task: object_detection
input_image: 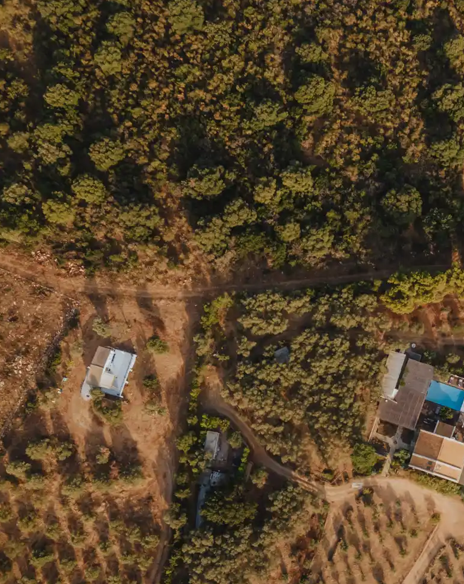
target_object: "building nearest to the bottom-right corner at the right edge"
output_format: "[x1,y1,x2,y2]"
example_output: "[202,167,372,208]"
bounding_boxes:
[409,419,464,481]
